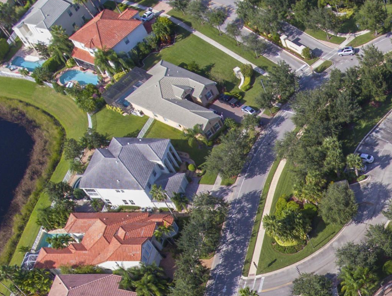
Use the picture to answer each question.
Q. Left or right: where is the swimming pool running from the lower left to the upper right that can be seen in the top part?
left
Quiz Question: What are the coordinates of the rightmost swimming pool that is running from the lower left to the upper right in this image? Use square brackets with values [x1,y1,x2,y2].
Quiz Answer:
[115,80,142,108]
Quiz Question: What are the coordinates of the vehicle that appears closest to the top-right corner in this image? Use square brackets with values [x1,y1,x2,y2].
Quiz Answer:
[336,45,355,57]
